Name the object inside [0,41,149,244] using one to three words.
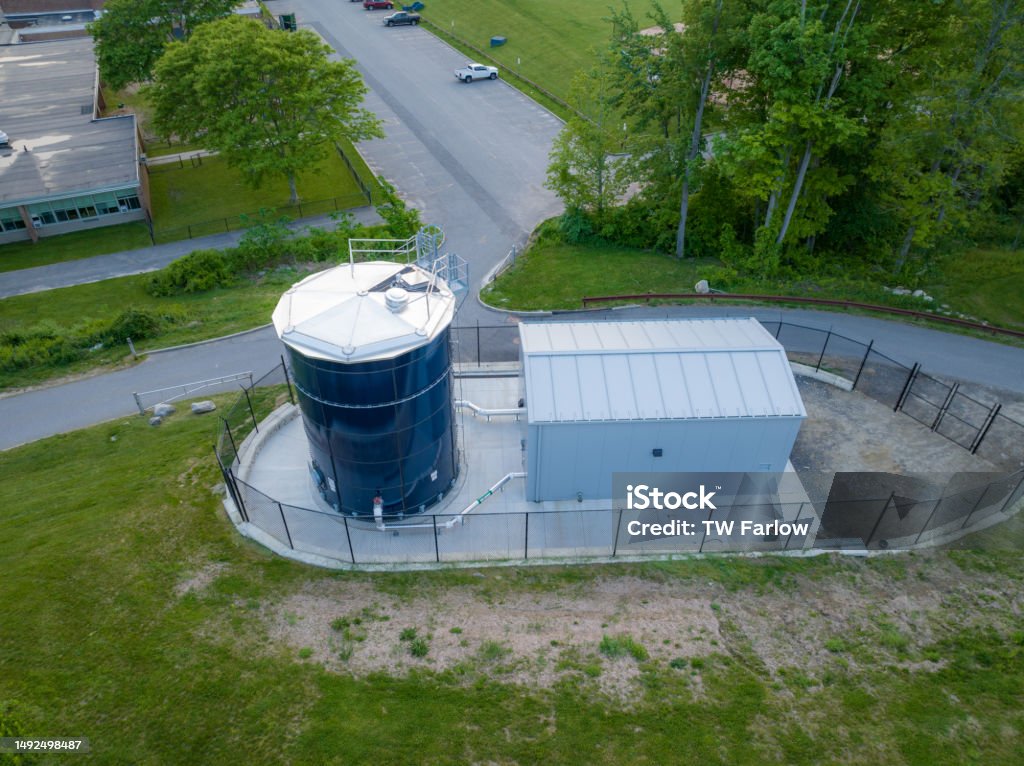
building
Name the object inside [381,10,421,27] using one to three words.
vehicle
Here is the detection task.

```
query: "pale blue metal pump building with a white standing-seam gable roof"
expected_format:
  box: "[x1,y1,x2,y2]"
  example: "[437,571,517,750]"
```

[512,317,808,504]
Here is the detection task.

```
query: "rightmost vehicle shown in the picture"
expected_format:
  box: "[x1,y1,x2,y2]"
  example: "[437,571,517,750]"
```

[454,63,502,82]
